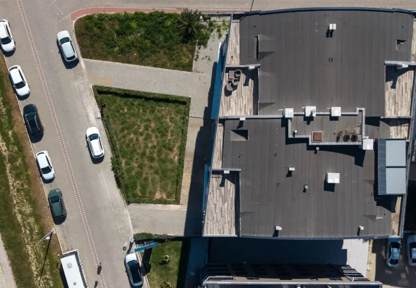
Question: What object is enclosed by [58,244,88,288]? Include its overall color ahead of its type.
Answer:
white vehicle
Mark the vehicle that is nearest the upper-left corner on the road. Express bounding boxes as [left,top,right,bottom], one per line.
[0,19,15,54]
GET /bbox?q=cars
[386,236,402,268]
[36,150,55,182]
[23,104,43,138]
[405,234,416,266]
[57,32,77,64]
[125,251,144,288]
[47,188,66,221]
[8,64,29,98]
[0,19,15,54]
[85,126,104,160]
